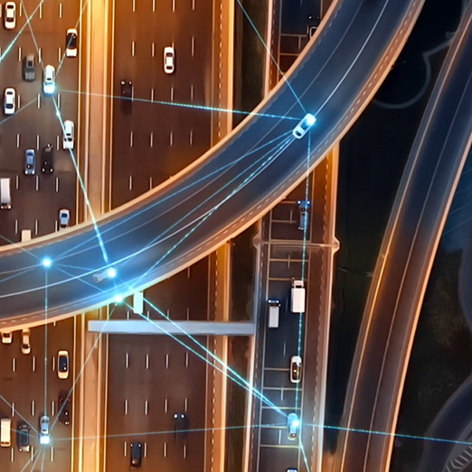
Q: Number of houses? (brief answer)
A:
zero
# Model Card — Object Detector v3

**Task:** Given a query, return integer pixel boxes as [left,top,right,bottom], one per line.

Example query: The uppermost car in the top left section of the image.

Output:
[3,1,17,29]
